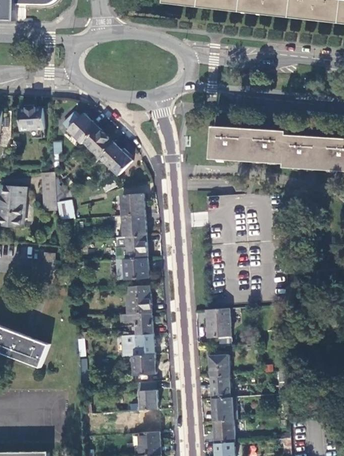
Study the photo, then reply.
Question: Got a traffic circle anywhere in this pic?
Yes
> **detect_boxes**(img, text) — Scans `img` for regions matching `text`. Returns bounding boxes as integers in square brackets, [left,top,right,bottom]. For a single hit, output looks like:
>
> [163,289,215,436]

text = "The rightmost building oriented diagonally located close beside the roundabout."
[62,105,135,175]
